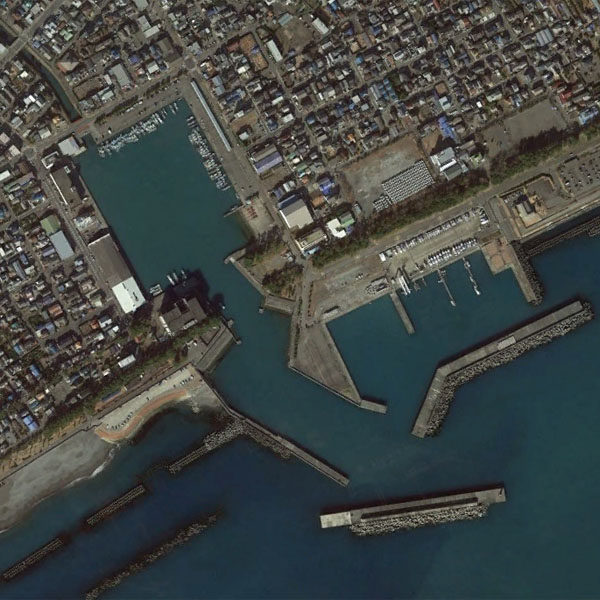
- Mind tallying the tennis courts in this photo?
0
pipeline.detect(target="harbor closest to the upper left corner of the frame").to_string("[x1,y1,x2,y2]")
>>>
[70,80,296,318]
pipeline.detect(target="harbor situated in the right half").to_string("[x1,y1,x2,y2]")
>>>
[325,210,492,322]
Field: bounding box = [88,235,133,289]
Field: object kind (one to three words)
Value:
building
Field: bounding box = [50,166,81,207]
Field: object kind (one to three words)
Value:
building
